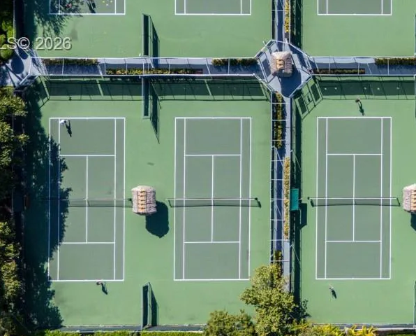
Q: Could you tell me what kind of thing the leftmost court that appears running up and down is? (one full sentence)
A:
It looks like the leftmost court that appears running up and down is a tennis court.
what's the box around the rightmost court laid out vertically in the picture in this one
[295,76,416,325]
